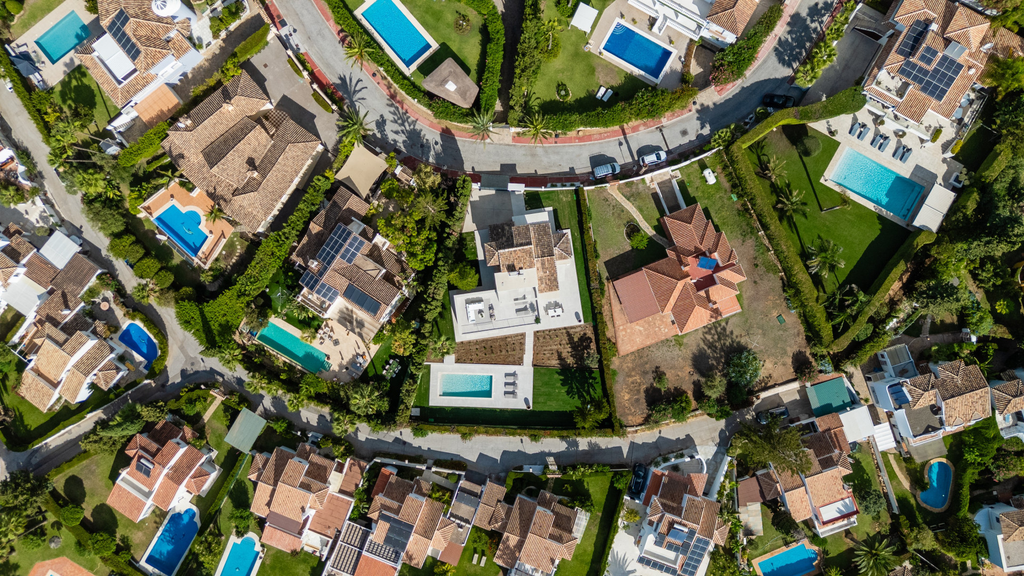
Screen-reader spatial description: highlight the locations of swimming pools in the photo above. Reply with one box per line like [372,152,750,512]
[117,321,160,371]
[218,535,262,576]
[755,542,821,576]
[355,0,438,75]
[918,459,955,511]
[151,201,210,260]
[827,145,927,223]
[256,320,334,373]
[143,506,199,576]
[598,16,678,84]
[33,9,93,65]
[436,371,495,401]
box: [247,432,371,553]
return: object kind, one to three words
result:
house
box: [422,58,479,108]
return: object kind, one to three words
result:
shed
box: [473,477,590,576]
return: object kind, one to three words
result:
house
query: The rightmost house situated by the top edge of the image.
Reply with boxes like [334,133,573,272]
[861,0,1024,140]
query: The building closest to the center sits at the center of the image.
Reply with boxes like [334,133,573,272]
[454,212,571,333]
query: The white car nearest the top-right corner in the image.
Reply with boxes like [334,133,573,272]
[639,151,666,165]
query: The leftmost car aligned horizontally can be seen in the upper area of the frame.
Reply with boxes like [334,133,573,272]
[593,164,619,177]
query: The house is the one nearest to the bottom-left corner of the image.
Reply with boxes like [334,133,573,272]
[106,416,223,523]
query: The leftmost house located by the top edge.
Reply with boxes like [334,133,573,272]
[75,0,211,134]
